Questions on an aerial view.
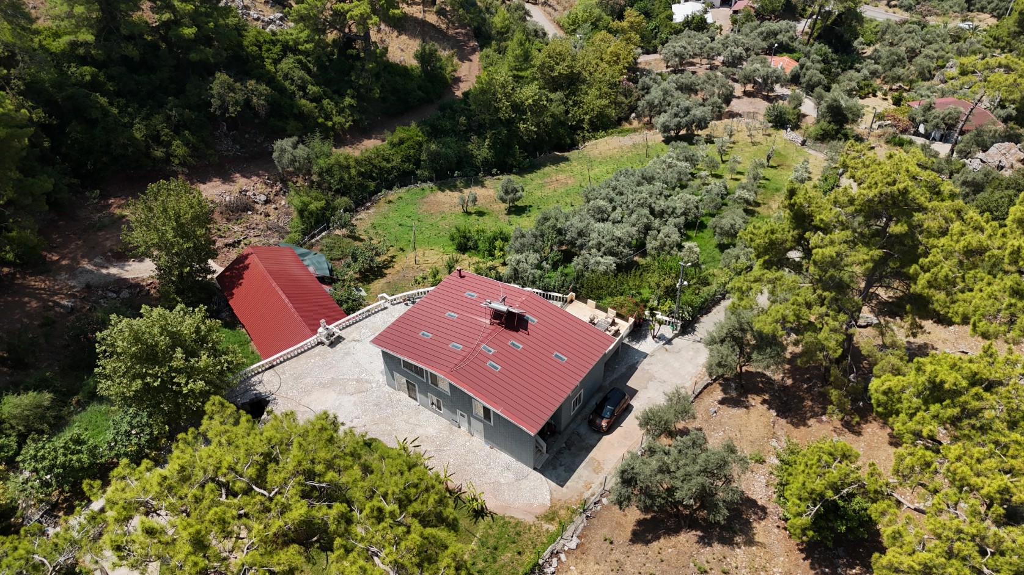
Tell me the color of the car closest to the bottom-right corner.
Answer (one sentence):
The color of the car closest to the bottom-right corner is black.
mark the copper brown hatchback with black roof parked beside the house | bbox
[591,385,632,433]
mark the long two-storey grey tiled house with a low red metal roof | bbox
[370,265,633,469]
